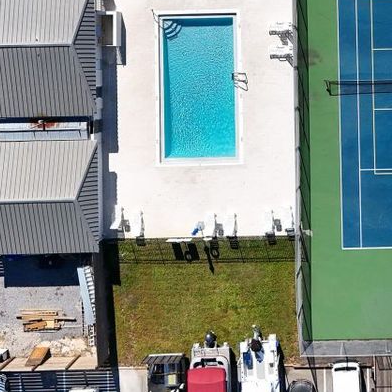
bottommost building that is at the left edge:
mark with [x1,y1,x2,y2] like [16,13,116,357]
[0,137,110,255]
